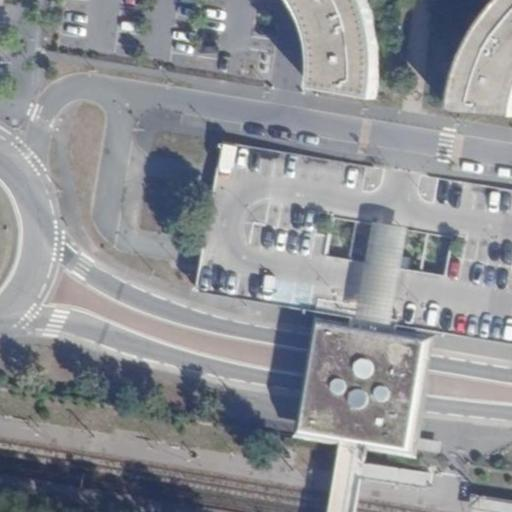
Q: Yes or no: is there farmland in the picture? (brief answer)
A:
No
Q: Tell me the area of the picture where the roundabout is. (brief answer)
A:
left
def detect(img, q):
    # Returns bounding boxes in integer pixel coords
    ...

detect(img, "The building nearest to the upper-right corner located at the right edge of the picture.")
[444,0,512,123]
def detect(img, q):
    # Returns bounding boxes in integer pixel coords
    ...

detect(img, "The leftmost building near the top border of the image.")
[282,0,379,105]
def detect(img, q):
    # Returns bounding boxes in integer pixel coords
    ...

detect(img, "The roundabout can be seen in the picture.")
[0,132,64,339]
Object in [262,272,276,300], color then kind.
white vehicle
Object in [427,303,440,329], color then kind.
white vehicle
